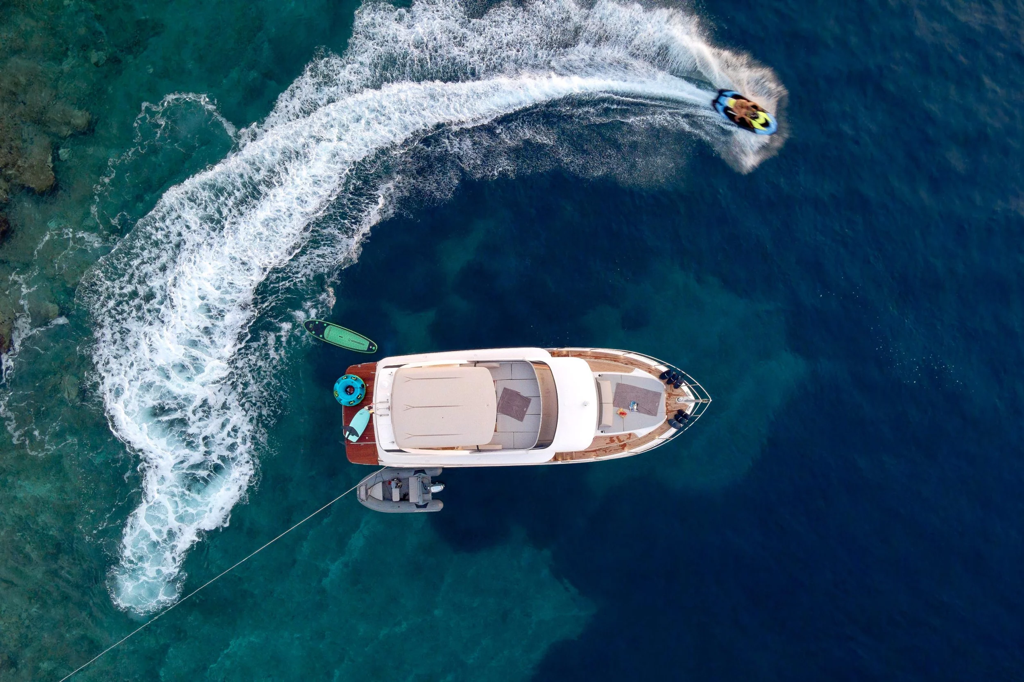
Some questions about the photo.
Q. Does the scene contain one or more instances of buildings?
No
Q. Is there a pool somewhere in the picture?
No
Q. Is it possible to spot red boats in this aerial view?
No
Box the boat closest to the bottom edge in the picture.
[356,467,444,513]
